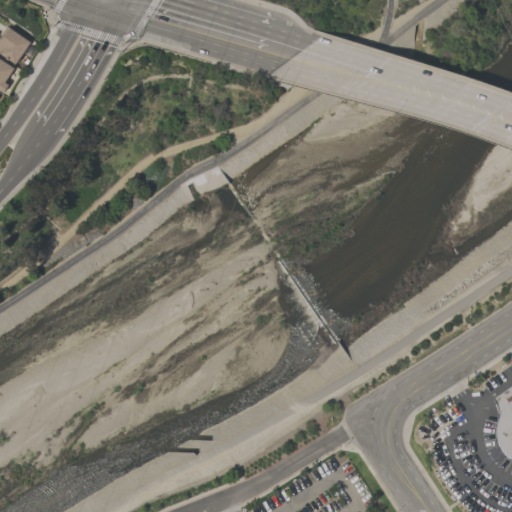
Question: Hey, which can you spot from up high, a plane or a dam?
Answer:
dam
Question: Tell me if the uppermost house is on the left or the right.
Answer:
left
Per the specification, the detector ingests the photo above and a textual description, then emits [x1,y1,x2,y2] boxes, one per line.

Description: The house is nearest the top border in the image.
[0,26,29,64]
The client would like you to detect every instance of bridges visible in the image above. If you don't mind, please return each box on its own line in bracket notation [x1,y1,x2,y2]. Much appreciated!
[271,32,512,149]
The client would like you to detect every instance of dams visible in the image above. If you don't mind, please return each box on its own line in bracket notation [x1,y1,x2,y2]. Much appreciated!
[220,167,352,359]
